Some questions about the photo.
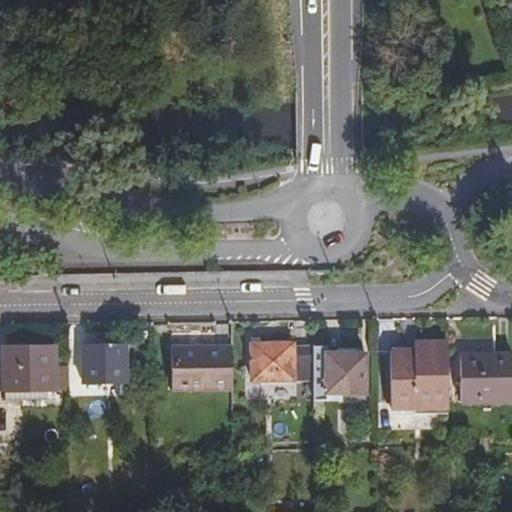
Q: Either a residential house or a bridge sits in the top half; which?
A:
bridge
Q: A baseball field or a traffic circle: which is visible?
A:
traffic circle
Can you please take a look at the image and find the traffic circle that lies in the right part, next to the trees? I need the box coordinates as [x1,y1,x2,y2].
[278,184,374,265]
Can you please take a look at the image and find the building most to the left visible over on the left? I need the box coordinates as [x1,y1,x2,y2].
[0,346,68,400]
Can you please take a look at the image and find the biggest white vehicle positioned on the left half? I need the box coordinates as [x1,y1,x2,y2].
[156,284,187,296]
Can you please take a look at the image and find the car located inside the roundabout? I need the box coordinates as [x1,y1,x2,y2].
[323,232,344,246]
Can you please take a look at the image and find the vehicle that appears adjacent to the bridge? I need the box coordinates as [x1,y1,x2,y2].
[310,143,322,172]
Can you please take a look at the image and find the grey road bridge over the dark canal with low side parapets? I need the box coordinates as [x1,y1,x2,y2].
[296,92,362,152]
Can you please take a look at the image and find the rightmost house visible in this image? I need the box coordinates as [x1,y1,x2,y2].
[461,351,512,406]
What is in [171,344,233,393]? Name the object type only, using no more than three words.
house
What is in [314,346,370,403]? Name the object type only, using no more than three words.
house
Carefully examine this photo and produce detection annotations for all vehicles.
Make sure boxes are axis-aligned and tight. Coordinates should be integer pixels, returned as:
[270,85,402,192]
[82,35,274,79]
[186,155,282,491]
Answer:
[61,285,80,295]
[310,143,322,172]
[156,284,187,296]
[380,408,390,428]
[323,232,344,246]
[241,282,262,293]
[307,0,318,12]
